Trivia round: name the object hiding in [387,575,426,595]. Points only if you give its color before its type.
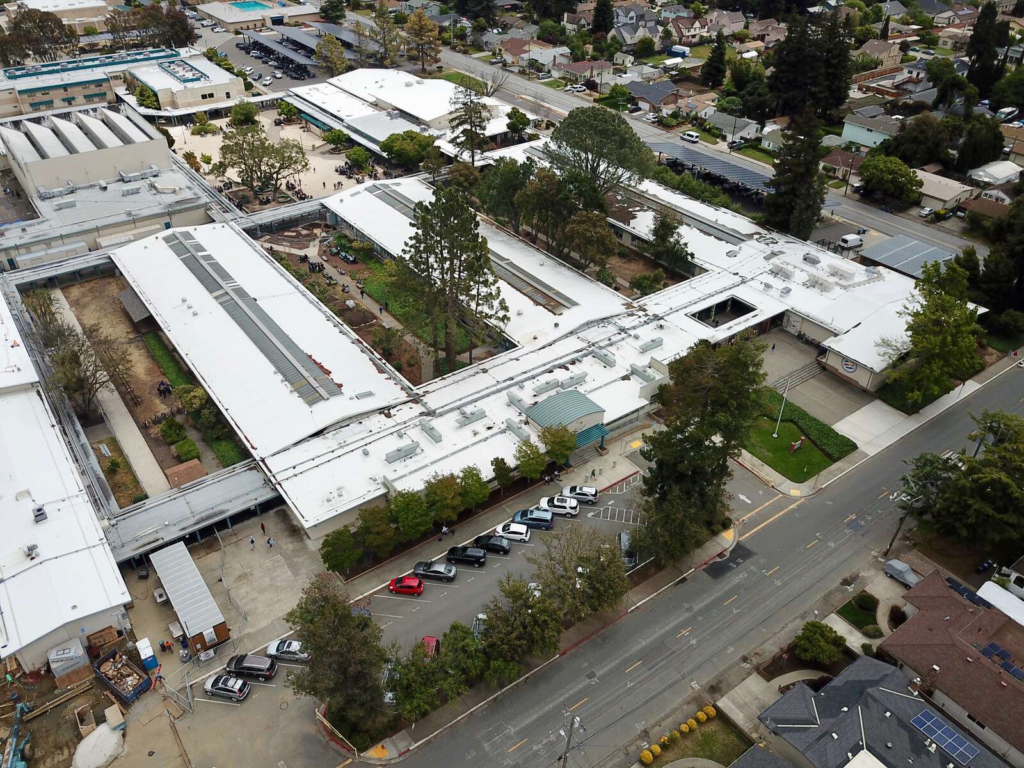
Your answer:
red car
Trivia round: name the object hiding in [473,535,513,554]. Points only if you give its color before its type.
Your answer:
black car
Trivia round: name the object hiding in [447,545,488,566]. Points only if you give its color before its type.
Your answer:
black car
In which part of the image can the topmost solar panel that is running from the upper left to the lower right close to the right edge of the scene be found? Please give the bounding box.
[946,576,993,609]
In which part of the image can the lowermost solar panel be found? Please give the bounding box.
[910,709,980,766]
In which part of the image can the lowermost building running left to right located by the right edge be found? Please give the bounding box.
[756,655,1005,768]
